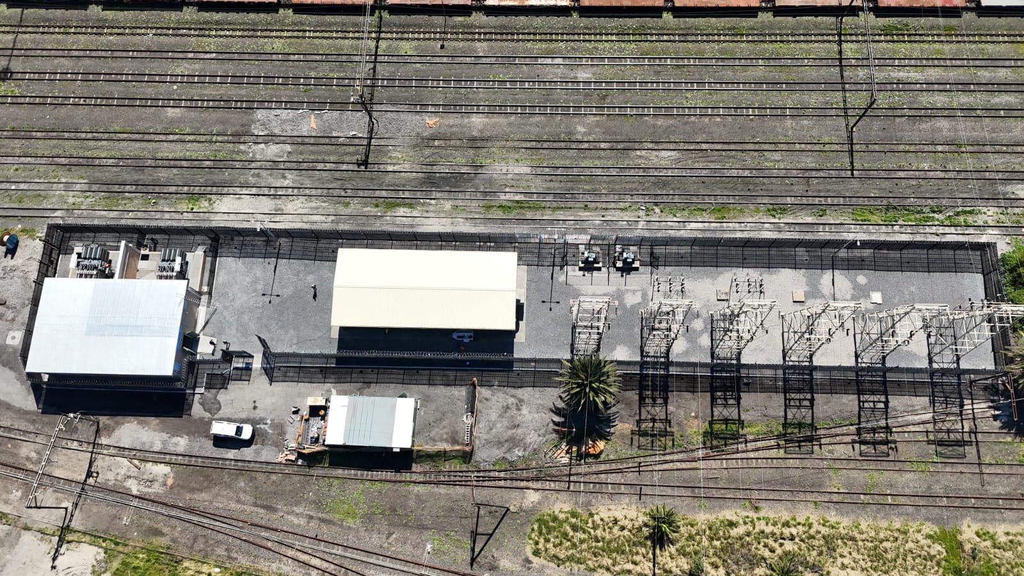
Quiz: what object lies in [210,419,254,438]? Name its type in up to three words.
vehicle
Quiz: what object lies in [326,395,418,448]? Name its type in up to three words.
shed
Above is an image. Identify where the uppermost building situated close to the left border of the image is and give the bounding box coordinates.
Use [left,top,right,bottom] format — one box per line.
[28,277,208,382]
